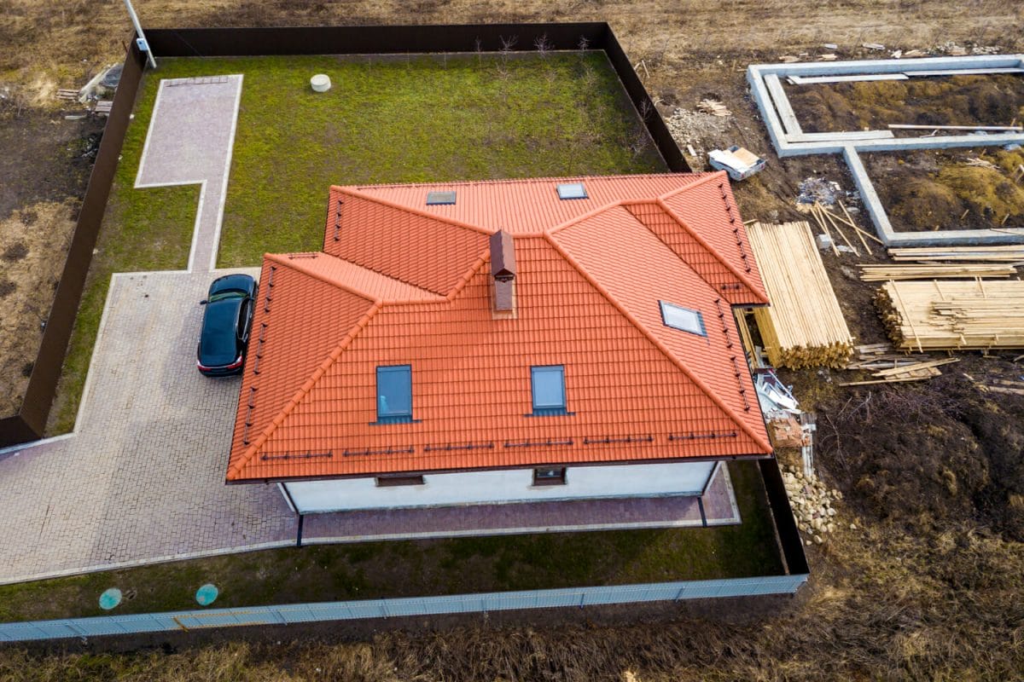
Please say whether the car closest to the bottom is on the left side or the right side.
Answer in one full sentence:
The car closest to the bottom is on the left side of the image.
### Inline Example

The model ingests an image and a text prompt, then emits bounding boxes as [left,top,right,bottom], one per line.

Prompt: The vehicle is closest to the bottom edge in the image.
[195,269,258,376]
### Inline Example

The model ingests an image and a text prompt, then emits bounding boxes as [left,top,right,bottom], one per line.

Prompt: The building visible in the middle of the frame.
[219,166,779,519]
